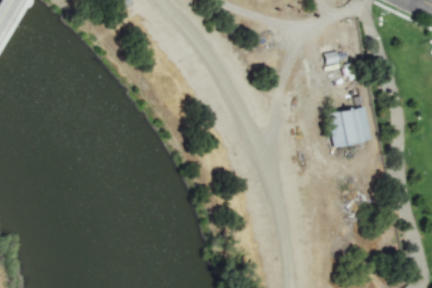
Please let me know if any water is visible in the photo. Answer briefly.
Yes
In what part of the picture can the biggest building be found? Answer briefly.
right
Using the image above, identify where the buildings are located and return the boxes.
[333,106,372,147]
[324,52,348,64]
